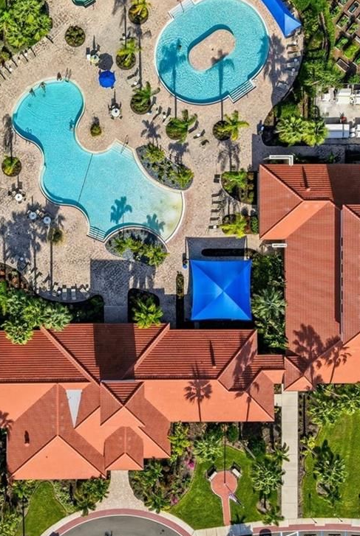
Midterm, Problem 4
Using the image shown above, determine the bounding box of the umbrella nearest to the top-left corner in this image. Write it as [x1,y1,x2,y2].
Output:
[100,69,117,85]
